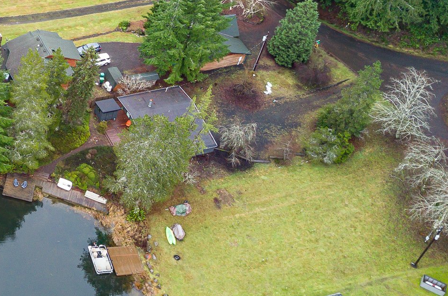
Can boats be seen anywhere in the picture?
Yes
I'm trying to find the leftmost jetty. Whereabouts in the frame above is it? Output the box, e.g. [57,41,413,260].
[2,173,36,205]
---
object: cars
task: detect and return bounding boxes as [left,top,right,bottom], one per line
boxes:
[93,51,115,66]
[78,41,103,56]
